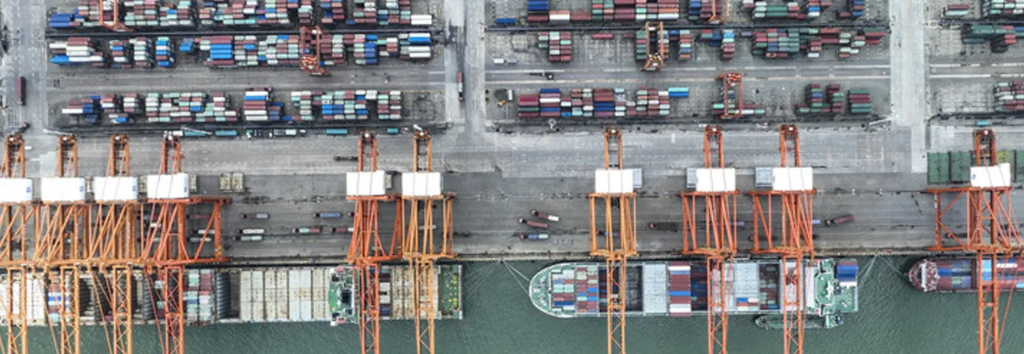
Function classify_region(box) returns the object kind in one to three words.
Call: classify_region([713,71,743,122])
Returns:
container crane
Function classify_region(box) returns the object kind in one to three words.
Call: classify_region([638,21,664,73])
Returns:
container crane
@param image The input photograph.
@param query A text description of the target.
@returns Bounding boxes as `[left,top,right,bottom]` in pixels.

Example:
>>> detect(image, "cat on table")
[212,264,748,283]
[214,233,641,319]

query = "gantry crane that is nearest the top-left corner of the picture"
[98,0,141,38]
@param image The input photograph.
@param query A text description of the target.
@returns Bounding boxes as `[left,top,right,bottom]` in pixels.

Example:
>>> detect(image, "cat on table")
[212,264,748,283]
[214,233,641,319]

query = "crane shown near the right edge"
[921,120,1022,354]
